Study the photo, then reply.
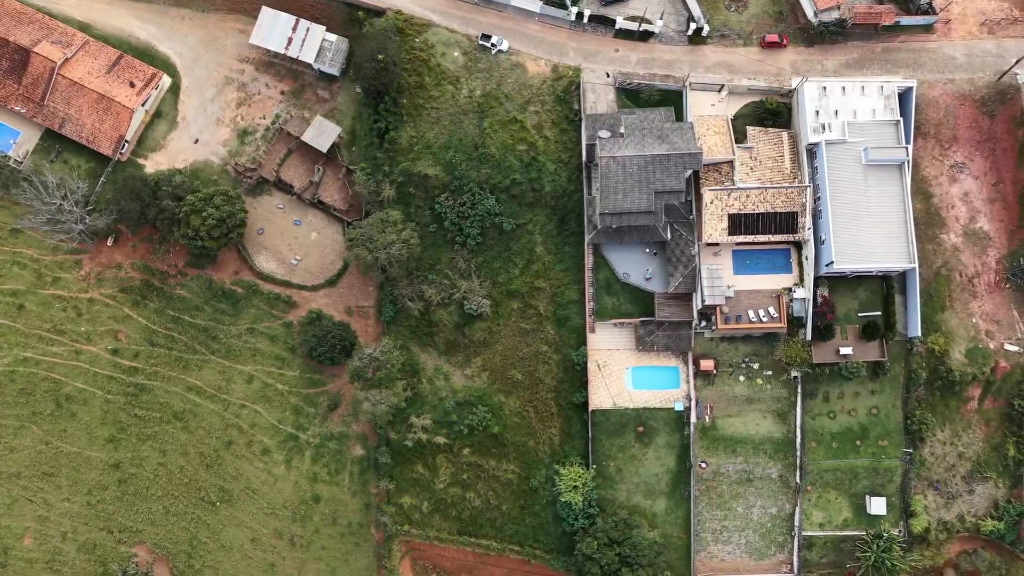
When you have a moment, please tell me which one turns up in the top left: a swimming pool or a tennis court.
swimming pool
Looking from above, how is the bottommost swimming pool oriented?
horizontally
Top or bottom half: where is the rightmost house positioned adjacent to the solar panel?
top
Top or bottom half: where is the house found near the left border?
top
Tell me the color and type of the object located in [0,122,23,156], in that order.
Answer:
blue swimming pool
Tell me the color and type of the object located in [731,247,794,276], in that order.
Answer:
blue swimming pool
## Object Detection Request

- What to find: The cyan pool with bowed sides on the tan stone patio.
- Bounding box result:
[626,364,682,391]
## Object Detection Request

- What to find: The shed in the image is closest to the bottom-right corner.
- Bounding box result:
[860,493,887,515]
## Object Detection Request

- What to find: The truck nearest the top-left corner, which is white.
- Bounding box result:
[476,30,509,54]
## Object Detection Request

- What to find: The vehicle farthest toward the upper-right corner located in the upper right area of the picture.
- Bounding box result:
[762,33,790,48]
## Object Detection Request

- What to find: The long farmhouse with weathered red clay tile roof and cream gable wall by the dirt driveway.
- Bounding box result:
[0,0,172,159]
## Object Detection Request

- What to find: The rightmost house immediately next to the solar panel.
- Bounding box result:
[792,78,916,279]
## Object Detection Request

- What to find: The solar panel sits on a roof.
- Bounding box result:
[728,211,799,236]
